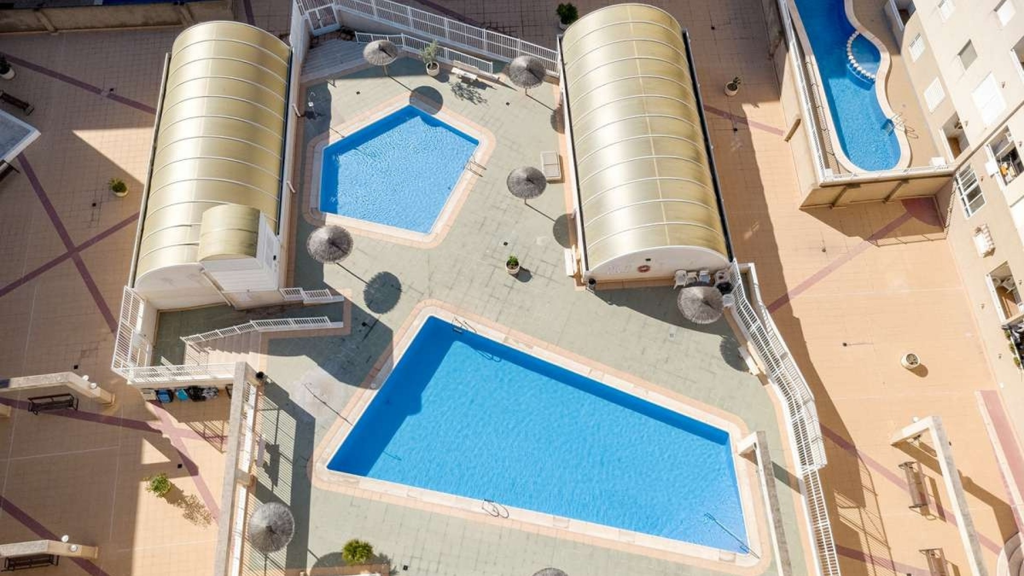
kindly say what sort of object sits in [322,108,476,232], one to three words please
swimming pool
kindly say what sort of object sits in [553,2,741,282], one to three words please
building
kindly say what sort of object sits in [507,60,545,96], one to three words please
umbrella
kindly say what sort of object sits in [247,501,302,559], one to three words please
umbrella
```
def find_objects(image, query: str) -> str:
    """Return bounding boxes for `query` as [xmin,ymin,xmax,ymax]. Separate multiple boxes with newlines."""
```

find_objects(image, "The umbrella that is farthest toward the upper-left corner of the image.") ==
[364,39,401,74]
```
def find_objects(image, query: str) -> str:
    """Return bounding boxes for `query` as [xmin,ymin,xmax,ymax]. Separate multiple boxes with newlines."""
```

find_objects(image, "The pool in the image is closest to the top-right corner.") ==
[796,0,898,170]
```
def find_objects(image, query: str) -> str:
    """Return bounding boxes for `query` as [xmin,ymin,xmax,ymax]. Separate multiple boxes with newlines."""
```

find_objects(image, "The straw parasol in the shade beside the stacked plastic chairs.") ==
[677,282,725,326]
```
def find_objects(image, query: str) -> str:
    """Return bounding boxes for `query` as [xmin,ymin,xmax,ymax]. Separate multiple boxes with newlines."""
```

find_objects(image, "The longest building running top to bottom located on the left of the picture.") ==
[126,18,308,409]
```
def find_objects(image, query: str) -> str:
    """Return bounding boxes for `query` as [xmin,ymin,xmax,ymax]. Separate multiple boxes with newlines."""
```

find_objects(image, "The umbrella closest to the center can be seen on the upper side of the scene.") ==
[508,169,548,204]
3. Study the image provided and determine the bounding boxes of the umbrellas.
[364,39,401,74]
[528,565,569,576]
[677,282,725,326]
[311,227,359,269]
[508,169,548,204]
[247,501,302,559]
[507,60,545,96]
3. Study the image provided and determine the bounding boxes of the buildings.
[897,0,1024,518]
[553,2,741,282]
[126,18,308,409]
